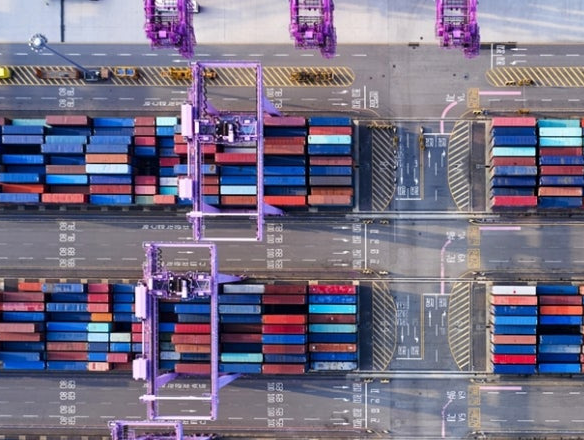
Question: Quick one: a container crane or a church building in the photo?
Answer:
container crane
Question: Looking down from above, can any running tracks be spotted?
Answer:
No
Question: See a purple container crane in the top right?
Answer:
Yes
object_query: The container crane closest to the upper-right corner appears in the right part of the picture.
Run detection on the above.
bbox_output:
[433,0,481,62]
